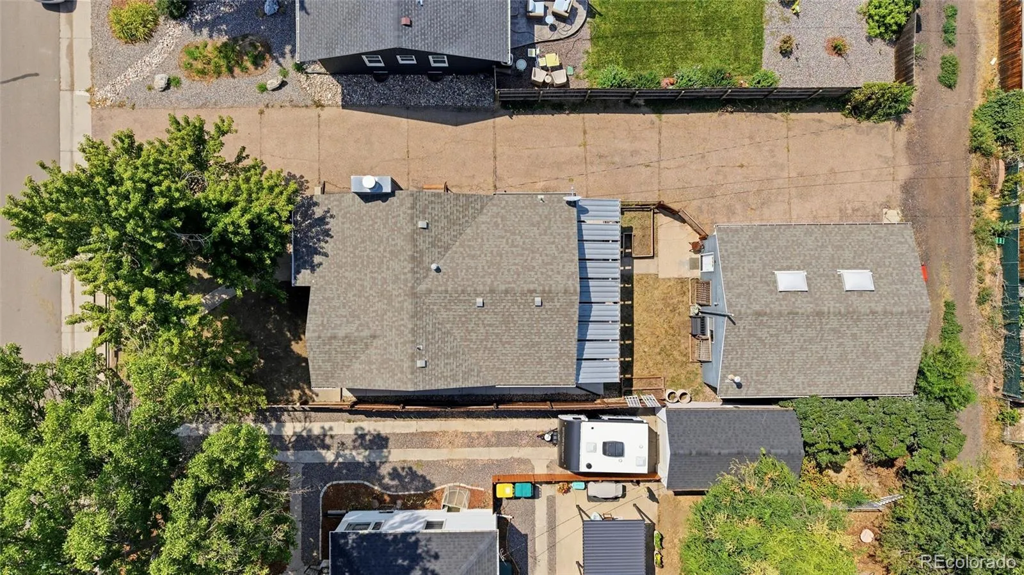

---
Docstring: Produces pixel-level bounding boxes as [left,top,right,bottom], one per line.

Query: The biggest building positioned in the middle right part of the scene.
[700,222,931,400]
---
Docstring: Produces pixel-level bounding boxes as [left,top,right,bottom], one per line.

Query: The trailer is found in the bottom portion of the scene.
[536,411,649,474]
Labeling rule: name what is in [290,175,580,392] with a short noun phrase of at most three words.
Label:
house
